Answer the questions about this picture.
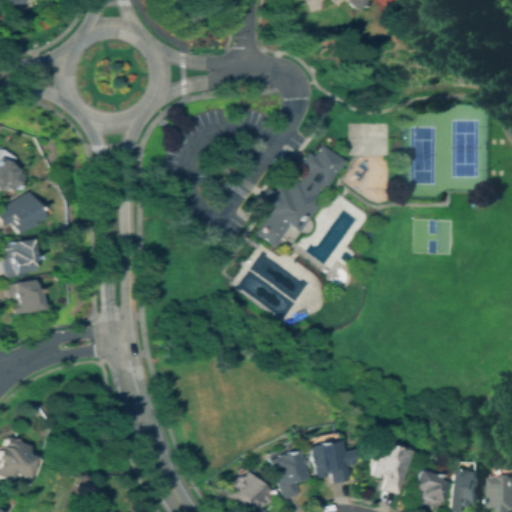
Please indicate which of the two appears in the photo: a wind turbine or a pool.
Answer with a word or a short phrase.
pool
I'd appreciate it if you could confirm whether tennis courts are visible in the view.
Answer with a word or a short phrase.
Yes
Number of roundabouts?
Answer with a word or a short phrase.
one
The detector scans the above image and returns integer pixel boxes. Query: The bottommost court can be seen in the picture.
[412,218,452,255]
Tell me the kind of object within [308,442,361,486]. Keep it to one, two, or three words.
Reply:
house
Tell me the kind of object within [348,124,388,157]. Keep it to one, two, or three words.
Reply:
sports court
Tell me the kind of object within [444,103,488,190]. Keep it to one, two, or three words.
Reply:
tennis court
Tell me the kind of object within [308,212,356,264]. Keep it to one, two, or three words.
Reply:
swimming pool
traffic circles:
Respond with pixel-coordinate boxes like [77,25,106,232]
[56,18,170,132]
